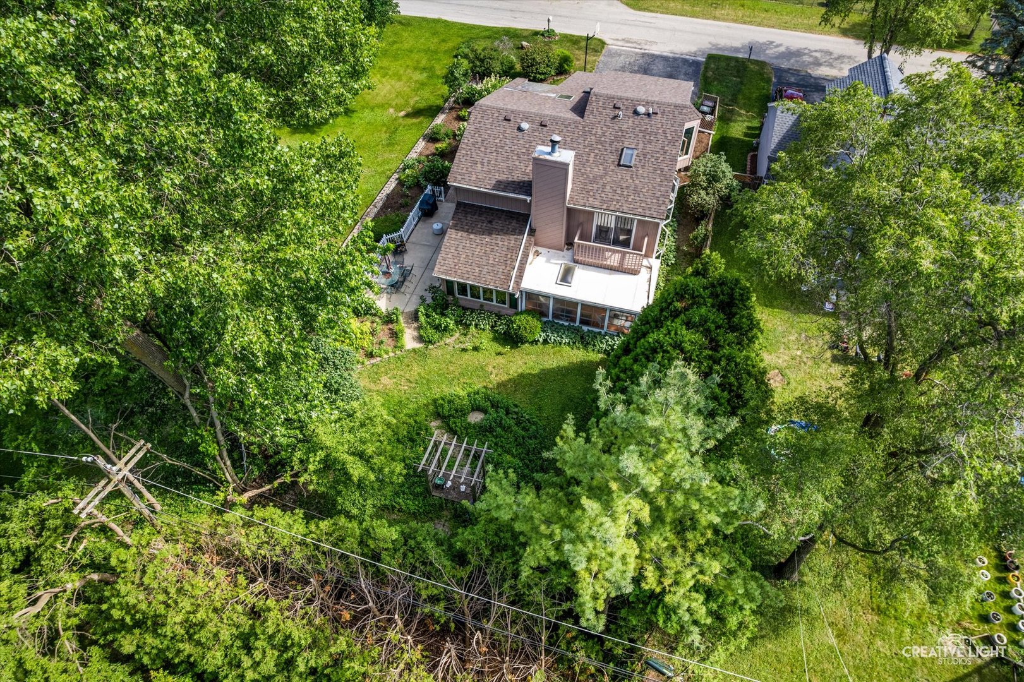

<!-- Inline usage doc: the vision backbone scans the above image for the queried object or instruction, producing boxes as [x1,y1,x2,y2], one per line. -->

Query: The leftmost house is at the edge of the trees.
[431,69,702,338]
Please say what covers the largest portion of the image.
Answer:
trees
